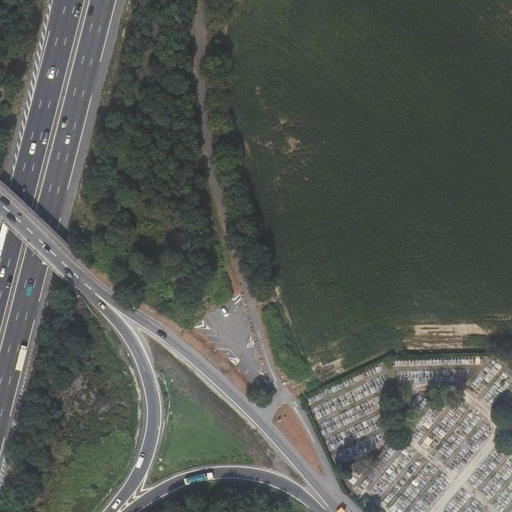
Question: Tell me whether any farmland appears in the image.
Yes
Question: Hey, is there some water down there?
No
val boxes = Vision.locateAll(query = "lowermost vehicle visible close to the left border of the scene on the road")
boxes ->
[14,344,28,372]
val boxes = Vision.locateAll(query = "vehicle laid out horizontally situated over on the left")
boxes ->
[184,473,214,485]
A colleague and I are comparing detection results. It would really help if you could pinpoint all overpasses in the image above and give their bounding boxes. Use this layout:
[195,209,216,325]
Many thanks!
[0,180,92,294]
